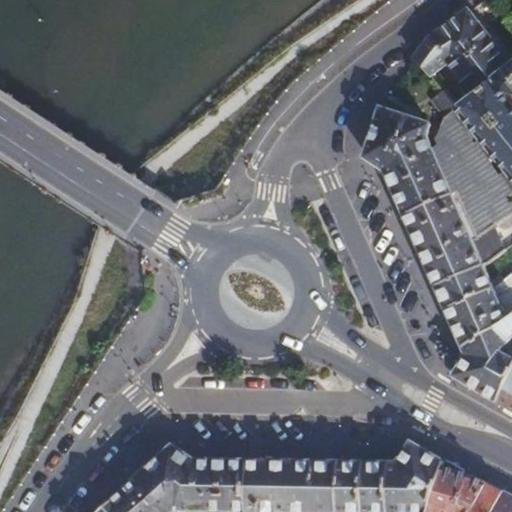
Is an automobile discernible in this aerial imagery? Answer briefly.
Yes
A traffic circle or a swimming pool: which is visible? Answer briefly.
traffic circle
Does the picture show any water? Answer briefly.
Yes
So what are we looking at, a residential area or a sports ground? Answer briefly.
residential area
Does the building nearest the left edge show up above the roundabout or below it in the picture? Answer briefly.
below it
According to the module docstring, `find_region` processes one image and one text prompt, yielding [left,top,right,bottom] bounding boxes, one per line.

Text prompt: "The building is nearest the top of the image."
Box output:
[408,6,500,78]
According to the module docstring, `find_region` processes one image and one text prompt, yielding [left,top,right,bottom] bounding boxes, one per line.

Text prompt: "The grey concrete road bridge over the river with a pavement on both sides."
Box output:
[0,91,180,252]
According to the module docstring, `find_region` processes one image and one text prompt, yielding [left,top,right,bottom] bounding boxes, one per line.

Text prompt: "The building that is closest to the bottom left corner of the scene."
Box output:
[92,442,241,512]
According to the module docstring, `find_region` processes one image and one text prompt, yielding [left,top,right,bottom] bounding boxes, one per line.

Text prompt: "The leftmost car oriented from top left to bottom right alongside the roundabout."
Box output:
[168,248,186,267]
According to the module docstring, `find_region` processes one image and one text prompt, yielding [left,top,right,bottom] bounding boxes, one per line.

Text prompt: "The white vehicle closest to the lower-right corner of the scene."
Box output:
[410,406,432,426]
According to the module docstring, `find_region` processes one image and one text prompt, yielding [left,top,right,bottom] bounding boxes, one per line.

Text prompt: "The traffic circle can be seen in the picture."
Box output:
[185,220,328,364]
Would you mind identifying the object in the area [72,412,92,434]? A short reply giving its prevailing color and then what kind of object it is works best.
white car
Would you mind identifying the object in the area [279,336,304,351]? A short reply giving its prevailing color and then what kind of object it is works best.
white vehicle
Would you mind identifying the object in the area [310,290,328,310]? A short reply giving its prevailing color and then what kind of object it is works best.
white vehicle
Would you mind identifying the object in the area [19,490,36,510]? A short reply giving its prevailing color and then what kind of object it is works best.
white car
